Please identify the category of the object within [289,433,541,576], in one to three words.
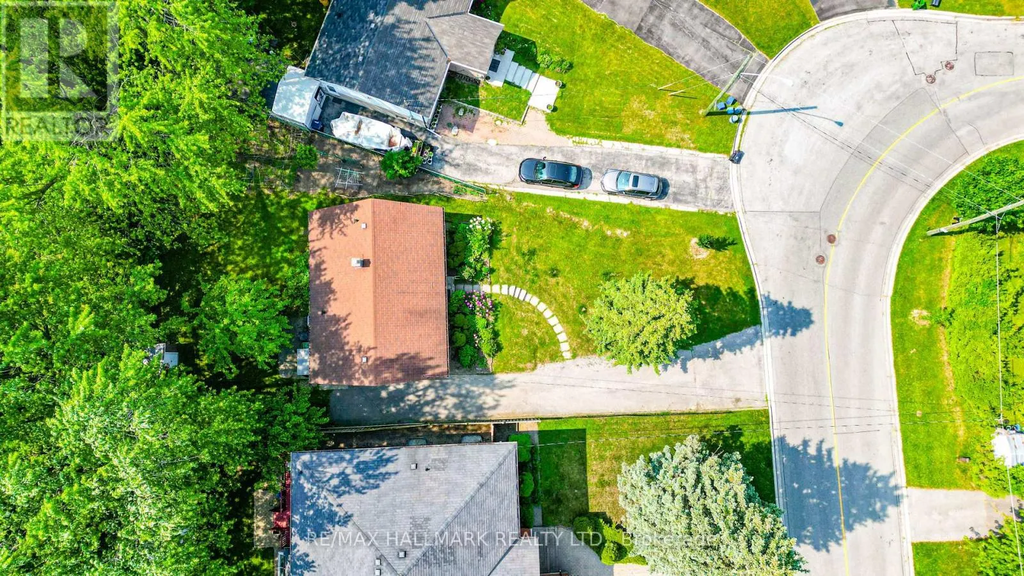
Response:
house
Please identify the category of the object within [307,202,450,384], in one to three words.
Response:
house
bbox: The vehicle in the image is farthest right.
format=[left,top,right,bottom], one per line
[601,167,663,201]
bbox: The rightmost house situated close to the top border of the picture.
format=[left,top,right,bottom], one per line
[303,0,505,127]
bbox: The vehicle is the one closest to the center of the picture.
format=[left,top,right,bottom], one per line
[519,158,584,192]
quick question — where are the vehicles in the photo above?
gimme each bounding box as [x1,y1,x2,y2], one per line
[601,167,663,201]
[519,158,584,192]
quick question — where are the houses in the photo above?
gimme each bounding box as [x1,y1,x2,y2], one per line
[289,433,541,576]
[303,0,505,127]
[307,202,450,384]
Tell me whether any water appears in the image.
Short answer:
No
